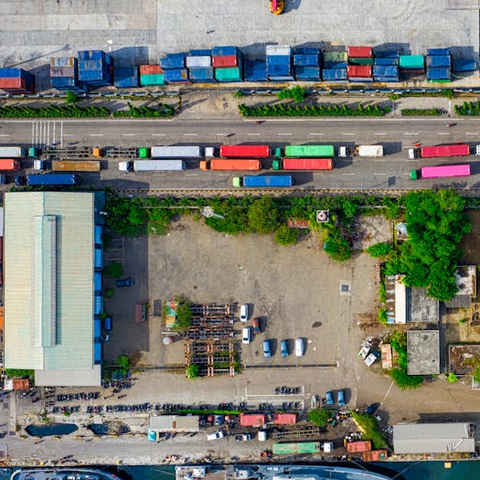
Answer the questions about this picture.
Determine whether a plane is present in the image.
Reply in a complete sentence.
No, I find no plane anywhere in the image.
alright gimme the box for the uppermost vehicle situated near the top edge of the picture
[269,0,286,13]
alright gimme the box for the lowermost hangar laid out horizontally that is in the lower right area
[393,420,476,453]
